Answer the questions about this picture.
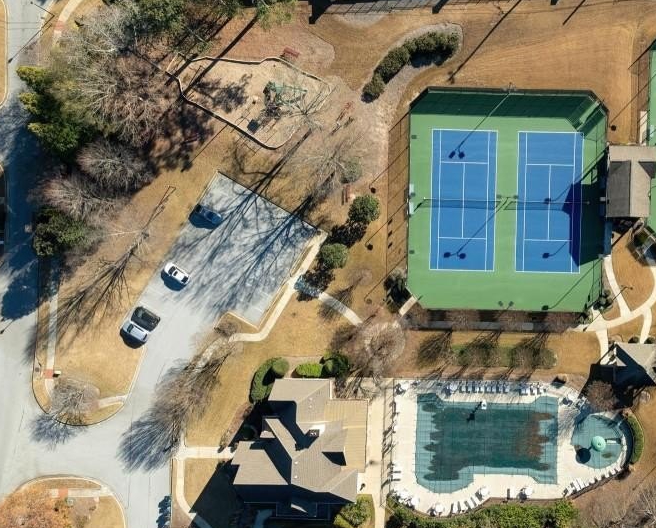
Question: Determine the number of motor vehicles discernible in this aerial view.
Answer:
4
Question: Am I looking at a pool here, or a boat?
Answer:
pool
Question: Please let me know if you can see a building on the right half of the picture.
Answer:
Yes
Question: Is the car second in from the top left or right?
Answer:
left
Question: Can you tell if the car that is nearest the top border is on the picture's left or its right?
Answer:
left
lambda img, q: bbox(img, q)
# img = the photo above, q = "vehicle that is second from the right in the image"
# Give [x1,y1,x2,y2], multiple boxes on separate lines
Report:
[160,265,189,286]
